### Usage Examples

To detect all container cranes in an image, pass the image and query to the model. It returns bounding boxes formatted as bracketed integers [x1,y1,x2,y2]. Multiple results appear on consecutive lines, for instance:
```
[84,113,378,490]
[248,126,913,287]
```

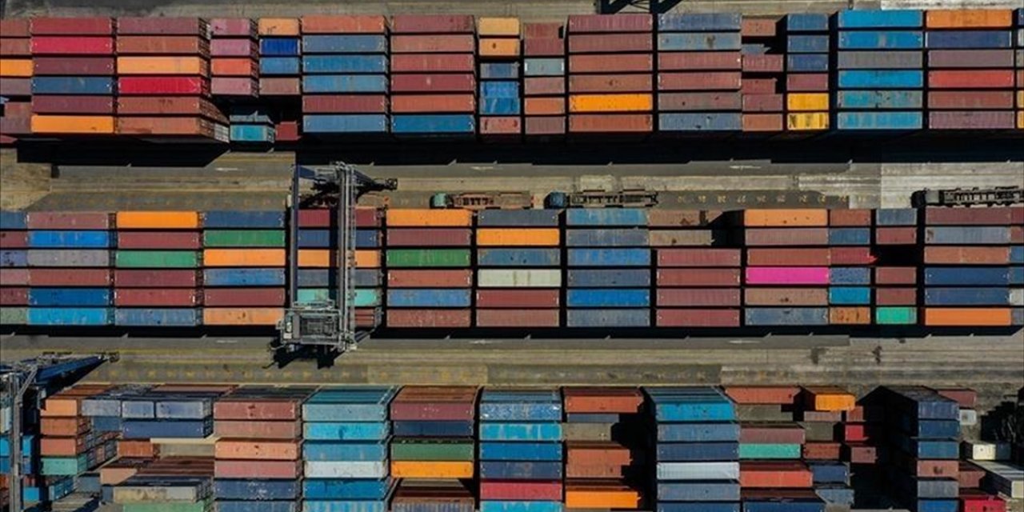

[273,158,397,360]
[0,350,120,512]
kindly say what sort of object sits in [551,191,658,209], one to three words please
vehicle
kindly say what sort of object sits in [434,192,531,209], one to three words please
vehicle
